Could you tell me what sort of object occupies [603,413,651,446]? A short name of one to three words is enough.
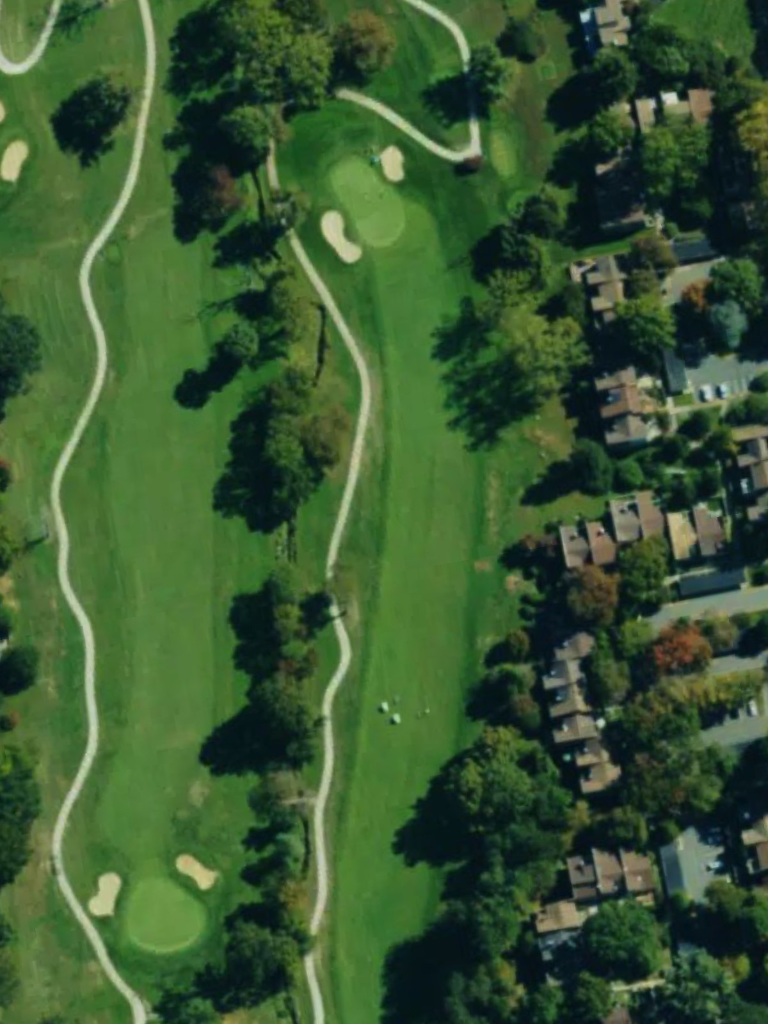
house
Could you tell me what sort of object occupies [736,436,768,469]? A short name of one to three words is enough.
house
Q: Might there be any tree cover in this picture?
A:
Yes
